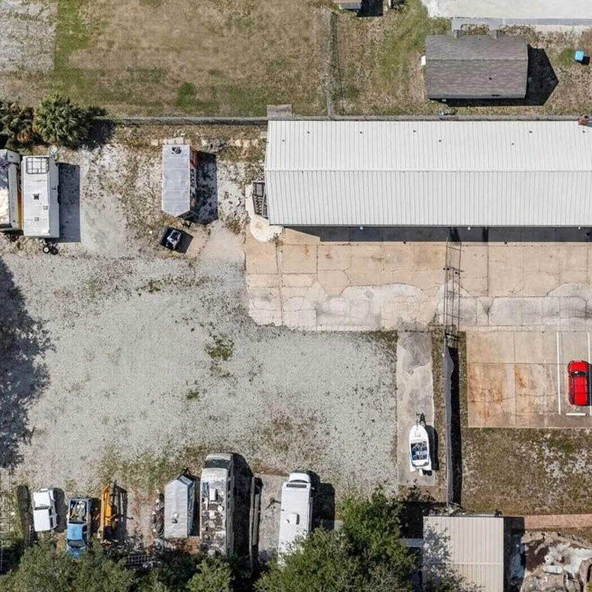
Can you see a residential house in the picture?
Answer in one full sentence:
Yes, there is a residential house in the image.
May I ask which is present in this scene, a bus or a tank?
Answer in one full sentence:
This aerial view contains a bus.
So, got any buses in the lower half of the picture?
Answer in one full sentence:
Yes, a bus shows up in the lower half of the picture.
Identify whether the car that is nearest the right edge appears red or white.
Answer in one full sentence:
From above, the car that is nearest the right edge appears red.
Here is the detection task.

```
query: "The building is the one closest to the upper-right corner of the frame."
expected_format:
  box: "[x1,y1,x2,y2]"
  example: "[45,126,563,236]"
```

[421,29,528,100]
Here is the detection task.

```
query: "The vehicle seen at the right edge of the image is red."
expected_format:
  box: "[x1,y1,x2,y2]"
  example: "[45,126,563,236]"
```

[570,361,592,406]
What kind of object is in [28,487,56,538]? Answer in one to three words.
truck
